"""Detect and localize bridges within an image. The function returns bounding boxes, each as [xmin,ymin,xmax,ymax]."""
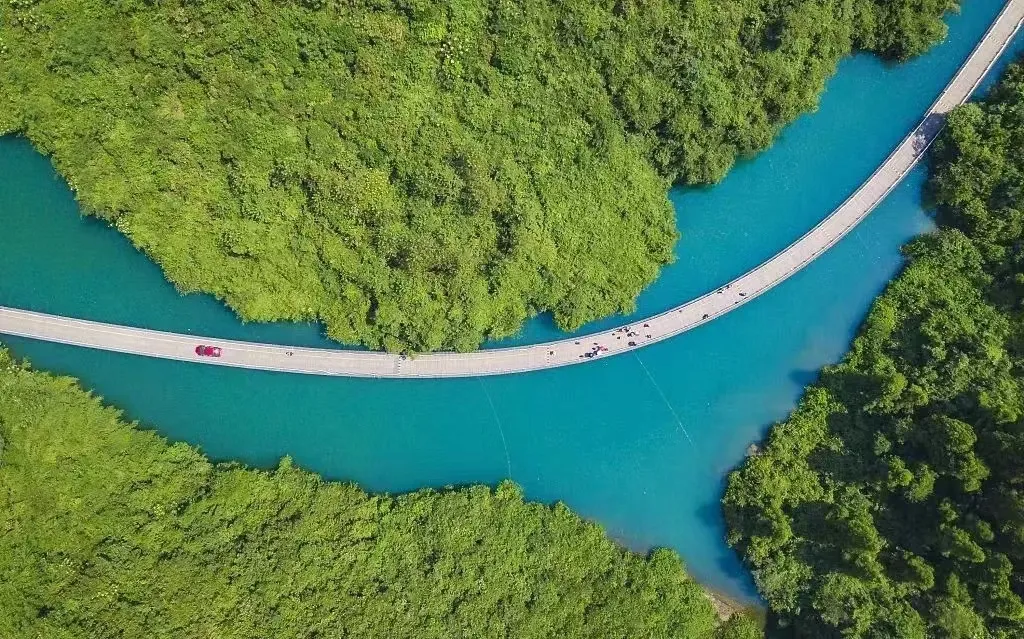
[0,0,1024,378]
